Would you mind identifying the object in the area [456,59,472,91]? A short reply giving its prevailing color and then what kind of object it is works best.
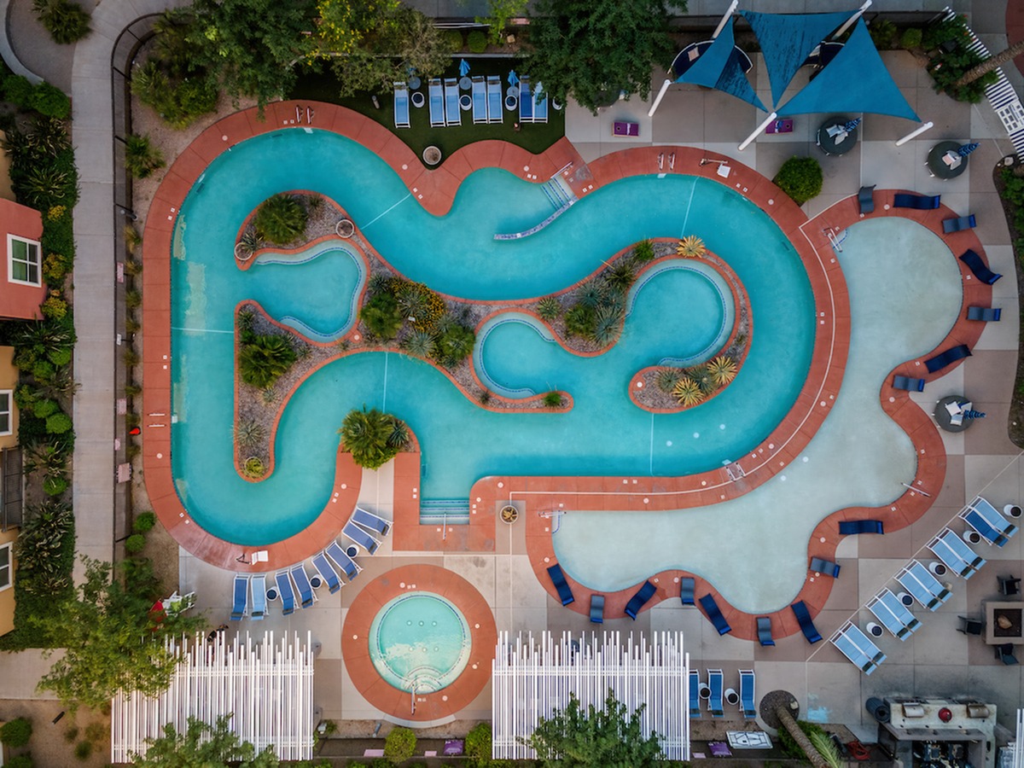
blue umbrella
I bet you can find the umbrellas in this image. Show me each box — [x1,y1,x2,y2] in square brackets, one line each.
[836,116,861,136]
[506,68,521,98]
[456,59,472,91]
[947,143,978,162]
[954,408,986,419]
